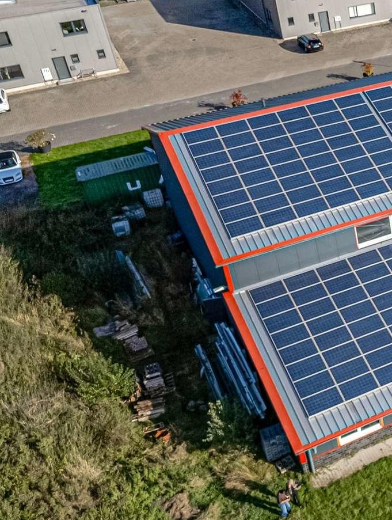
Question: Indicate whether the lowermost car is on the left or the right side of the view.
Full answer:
The lowermost car is on the left side of the image.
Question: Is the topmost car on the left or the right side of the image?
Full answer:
The topmost car appears in the right half of the scene.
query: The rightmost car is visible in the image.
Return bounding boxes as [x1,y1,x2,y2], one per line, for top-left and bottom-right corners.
[295,32,322,53]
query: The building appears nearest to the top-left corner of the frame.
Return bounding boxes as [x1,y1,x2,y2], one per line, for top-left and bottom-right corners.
[0,0,120,94]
